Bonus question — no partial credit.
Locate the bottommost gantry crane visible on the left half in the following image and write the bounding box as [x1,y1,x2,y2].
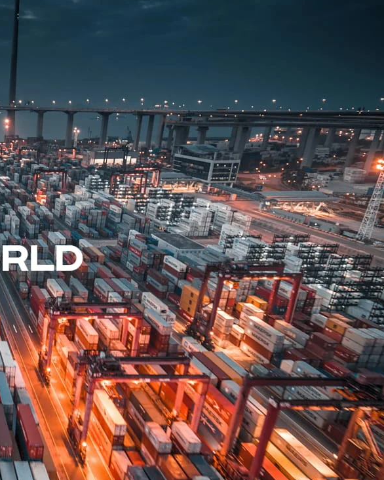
[68,347,219,468]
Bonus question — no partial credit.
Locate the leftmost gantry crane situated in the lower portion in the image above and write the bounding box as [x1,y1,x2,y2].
[34,286,140,377]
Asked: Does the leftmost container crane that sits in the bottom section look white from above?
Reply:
No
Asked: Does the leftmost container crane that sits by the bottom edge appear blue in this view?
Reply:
No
